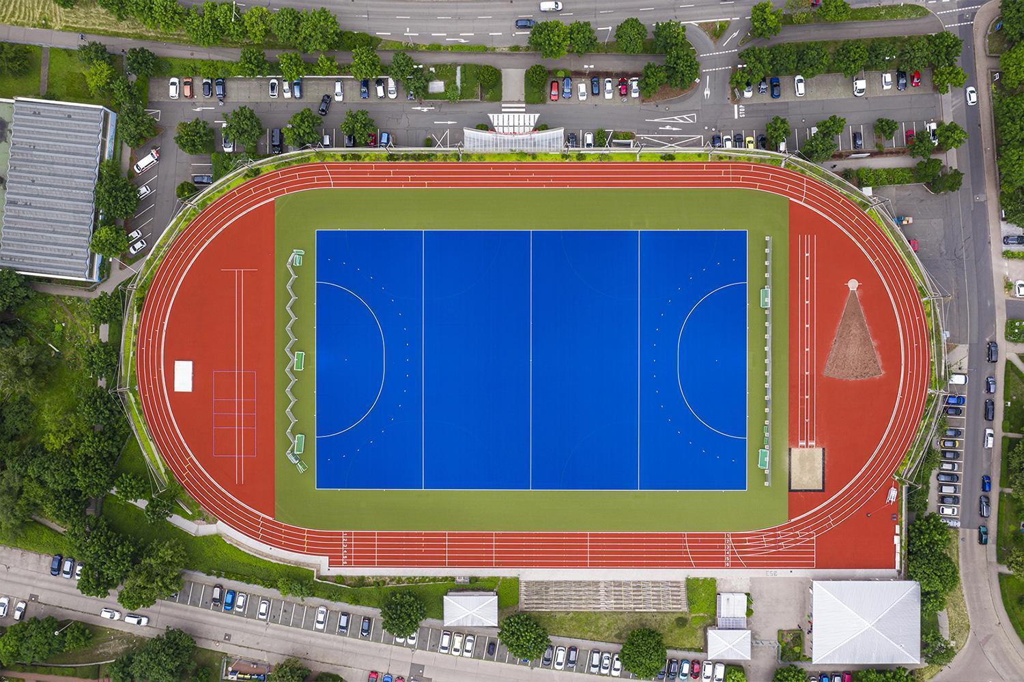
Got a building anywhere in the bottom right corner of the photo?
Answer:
Yes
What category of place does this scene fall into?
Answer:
sports ground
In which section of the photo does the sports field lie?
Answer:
center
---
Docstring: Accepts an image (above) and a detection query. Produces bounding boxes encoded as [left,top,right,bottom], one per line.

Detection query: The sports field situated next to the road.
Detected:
[275,188,789,531]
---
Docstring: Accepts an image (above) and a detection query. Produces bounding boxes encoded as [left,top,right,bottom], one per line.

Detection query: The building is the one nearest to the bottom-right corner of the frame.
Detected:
[809,578,921,665]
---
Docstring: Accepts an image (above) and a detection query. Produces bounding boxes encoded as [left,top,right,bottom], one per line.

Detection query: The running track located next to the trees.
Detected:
[137,162,927,569]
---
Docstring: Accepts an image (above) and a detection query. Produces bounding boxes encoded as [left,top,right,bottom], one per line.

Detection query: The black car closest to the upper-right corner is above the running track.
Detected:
[896,69,908,92]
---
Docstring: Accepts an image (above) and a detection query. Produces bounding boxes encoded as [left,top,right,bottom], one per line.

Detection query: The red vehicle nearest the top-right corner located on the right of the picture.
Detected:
[910,69,922,90]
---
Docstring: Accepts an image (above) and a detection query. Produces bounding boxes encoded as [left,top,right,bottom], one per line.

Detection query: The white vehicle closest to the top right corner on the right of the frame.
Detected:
[965,86,978,106]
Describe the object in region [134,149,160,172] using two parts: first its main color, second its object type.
white vehicle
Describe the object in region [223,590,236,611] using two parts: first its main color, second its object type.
blue vehicle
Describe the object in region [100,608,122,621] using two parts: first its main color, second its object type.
white vehicle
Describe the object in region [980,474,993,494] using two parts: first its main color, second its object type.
blue vehicle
